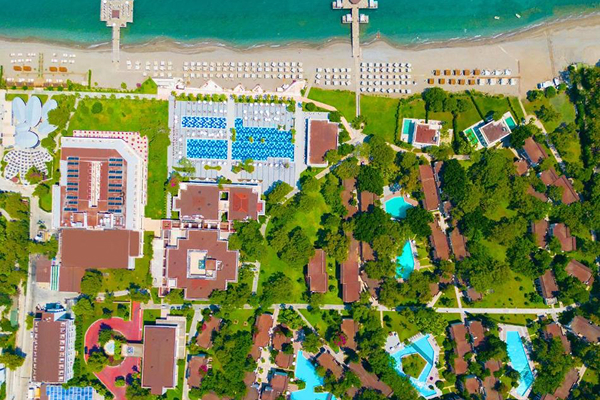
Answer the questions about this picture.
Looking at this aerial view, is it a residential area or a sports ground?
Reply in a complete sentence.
What you see here is a residential area.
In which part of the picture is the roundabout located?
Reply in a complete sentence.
Look in the bottom left portion of the view to spot the roundabout.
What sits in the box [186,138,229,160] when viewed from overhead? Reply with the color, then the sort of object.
blue swimming pool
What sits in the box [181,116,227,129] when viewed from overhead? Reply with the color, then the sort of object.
blue swimming pool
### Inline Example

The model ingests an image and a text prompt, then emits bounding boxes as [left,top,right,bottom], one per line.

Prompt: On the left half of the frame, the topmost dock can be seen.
[100,0,134,62]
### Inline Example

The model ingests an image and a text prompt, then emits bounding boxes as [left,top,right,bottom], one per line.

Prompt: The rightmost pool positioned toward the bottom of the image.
[506,330,535,398]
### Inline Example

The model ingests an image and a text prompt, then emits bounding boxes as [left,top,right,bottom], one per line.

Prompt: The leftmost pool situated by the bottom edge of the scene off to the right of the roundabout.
[291,353,325,400]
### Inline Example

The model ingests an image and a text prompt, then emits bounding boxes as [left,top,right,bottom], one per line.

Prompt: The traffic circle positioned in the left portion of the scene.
[84,301,143,400]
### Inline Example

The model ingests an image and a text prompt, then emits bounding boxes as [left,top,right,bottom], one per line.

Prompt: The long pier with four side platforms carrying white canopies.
[333,0,378,57]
